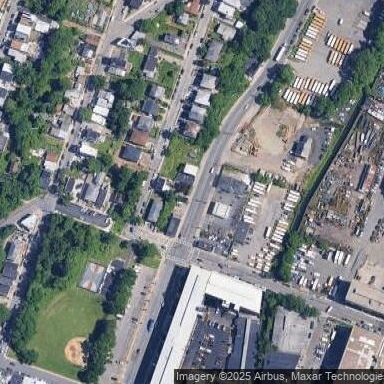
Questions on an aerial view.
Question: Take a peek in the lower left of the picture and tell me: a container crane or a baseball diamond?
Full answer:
There is a baseball diamond in the lower left of the picture.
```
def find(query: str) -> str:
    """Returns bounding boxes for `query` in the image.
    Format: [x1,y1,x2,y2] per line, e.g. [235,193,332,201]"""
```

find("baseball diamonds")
[39,296,99,376]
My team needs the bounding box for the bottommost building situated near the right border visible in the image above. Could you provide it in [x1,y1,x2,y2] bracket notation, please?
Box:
[335,326,384,384]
